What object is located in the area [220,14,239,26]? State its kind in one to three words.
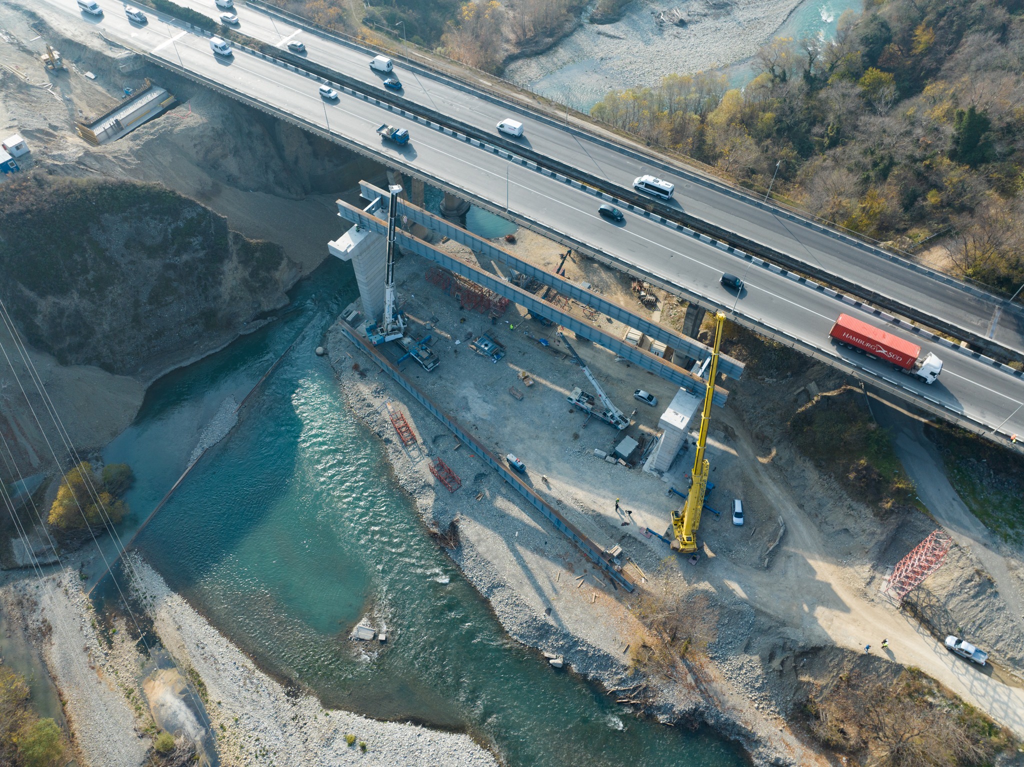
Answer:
vehicle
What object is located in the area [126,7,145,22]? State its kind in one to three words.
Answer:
car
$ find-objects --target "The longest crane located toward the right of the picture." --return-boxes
[642,311,729,565]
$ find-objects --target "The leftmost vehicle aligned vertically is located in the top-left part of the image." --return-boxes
[40,34,61,75]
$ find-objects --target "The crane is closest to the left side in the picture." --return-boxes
[364,182,443,375]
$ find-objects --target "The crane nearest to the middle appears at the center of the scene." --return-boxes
[553,331,636,439]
